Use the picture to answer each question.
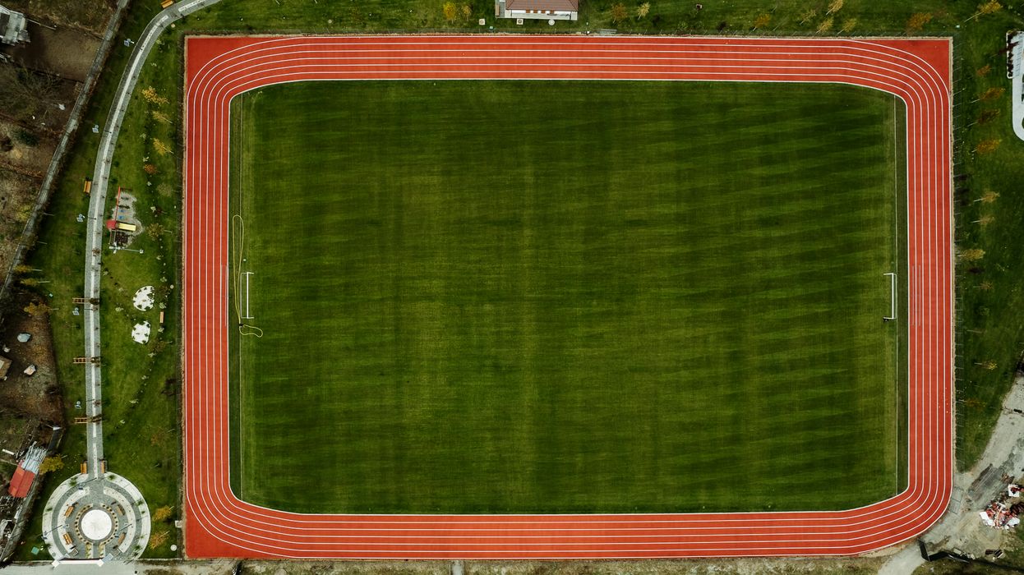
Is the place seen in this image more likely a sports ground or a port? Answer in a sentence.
It's a sports ground.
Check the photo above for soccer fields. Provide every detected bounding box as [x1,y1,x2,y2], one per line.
[230,80,908,515]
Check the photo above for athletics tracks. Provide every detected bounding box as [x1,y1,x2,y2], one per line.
[185,35,954,560]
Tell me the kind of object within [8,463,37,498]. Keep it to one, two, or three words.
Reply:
shed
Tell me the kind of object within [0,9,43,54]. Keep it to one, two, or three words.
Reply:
house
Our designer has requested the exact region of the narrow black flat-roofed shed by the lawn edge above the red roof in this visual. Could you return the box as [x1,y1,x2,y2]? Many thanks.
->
[47,426,70,455]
